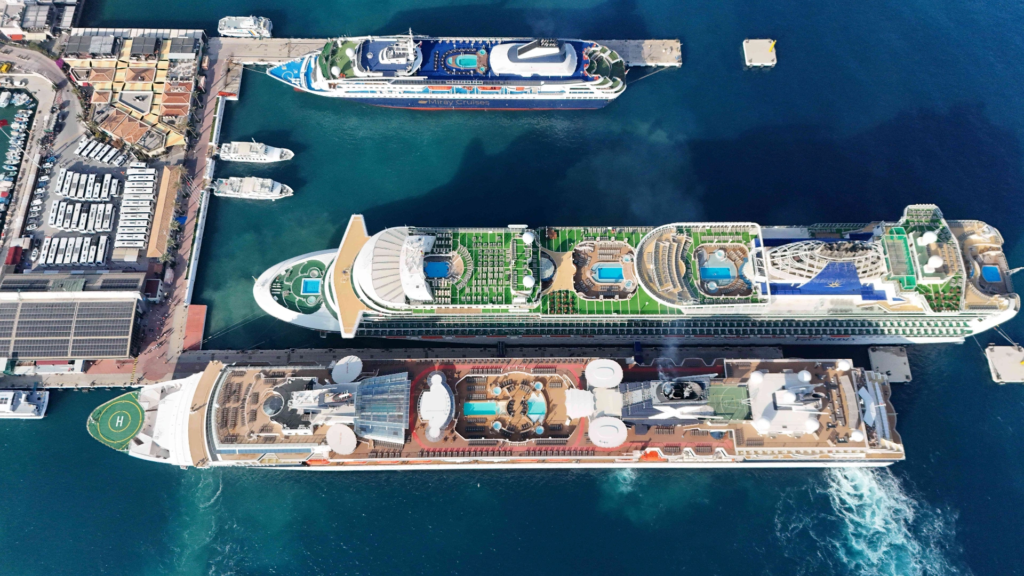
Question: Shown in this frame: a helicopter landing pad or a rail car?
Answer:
helicopter landing pad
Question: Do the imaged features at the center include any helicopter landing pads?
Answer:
No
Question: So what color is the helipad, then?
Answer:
green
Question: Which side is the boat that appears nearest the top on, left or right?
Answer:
left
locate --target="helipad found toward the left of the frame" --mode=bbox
[87,392,148,453]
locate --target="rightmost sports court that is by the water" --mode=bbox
[878,227,916,291]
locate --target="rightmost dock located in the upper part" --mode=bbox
[231,38,684,68]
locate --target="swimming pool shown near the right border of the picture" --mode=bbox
[981,264,1003,284]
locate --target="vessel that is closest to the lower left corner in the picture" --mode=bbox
[0,382,51,420]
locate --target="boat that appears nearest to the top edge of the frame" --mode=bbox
[218,14,272,38]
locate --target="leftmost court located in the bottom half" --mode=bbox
[710,384,750,420]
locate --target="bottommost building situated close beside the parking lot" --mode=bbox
[0,301,145,364]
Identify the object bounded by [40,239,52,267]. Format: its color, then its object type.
white vehicle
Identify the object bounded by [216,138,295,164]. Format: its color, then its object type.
white boat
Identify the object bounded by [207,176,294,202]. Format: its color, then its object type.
white boat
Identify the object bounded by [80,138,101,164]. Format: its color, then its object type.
white bus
